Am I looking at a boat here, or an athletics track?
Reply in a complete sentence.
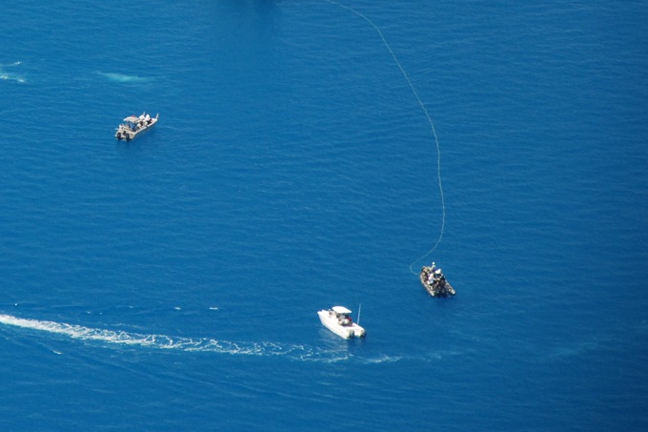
This aerial view contains a boat.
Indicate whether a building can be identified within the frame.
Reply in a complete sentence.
No, this view has no building in it.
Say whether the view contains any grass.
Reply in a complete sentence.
No, grass can't be seen anywhere here.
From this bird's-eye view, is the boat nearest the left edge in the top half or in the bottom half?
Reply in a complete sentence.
The top half of the photo is where the boat nearest the left edge is.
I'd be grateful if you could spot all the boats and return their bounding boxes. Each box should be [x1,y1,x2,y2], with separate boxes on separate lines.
[114,111,157,141]
[316,307,364,339]
[419,269,456,297]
